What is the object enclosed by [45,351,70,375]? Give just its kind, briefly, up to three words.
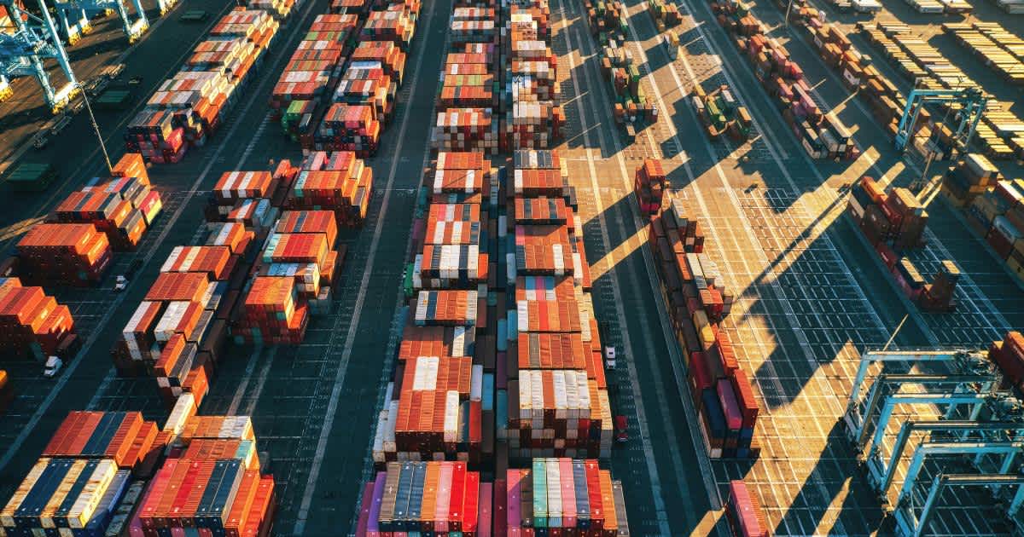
truck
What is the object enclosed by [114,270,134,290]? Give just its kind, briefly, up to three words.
vehicle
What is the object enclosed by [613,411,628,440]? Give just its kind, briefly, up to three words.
vehicle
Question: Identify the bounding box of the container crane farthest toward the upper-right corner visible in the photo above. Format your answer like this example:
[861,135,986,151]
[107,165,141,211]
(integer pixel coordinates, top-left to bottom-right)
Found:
[896,84,997,155]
